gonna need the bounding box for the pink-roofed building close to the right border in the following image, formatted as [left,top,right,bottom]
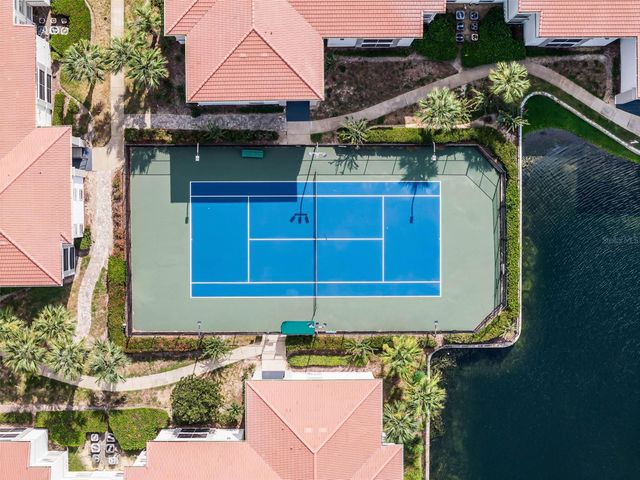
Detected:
[506,0,640,118]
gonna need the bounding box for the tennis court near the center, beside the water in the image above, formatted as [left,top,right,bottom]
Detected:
[131,148,502,331]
